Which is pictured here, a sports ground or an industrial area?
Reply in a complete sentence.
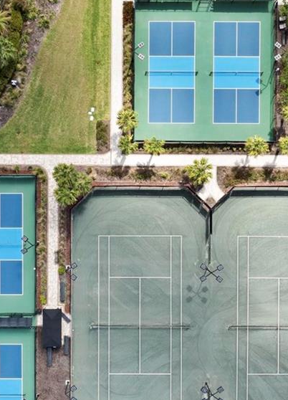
It's a sports ground.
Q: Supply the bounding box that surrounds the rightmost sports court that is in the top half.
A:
[205,0,276,141]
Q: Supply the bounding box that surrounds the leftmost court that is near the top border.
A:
[134,0,205,141]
